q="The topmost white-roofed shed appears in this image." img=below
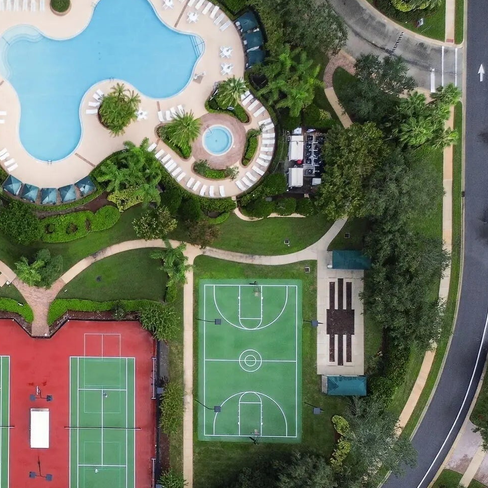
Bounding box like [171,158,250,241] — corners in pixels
[285,136,303,163]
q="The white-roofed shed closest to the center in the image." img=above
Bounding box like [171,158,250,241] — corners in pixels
[284,168,302,189]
